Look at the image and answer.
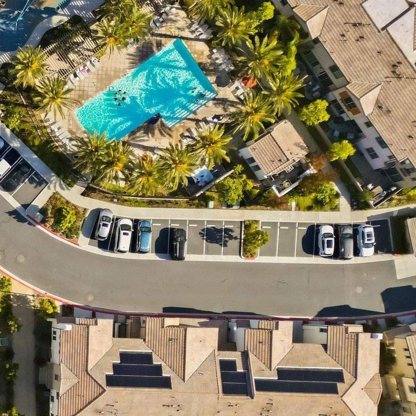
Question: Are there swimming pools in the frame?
Yes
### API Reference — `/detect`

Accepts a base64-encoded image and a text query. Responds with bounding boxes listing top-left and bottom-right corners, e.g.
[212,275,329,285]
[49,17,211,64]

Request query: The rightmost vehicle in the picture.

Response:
[357,225,375,256]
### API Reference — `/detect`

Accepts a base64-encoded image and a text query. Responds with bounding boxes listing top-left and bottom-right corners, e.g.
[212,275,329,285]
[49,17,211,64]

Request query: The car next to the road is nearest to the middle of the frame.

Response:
[169,228,187,261]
